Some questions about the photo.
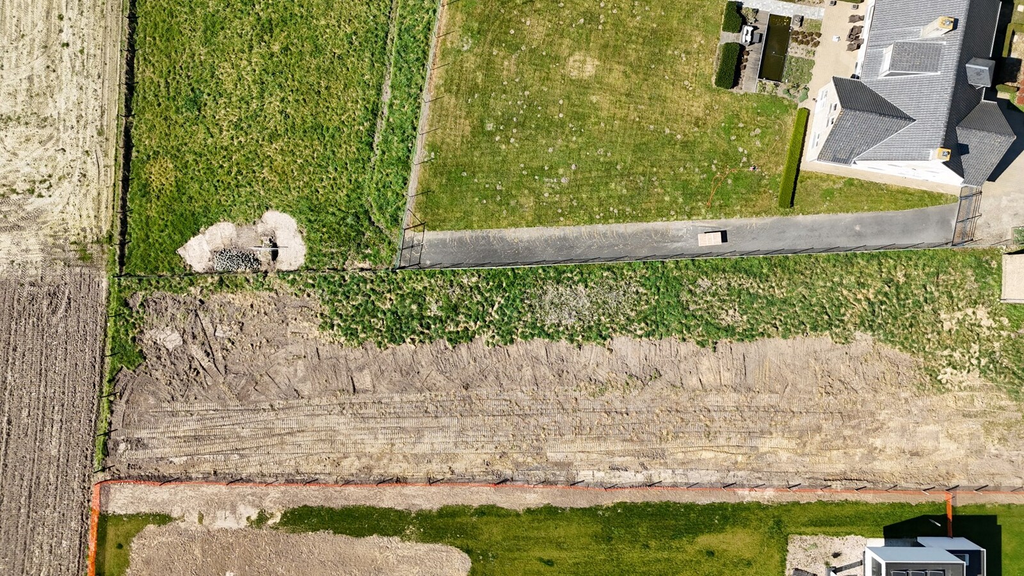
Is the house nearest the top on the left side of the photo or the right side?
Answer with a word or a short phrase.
right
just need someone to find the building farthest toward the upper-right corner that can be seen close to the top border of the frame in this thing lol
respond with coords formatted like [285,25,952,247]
[805,0,1015,186]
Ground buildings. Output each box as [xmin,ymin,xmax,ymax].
[863,537,984,576]
[1001,252,1024,304]
[805,0,1015,186]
